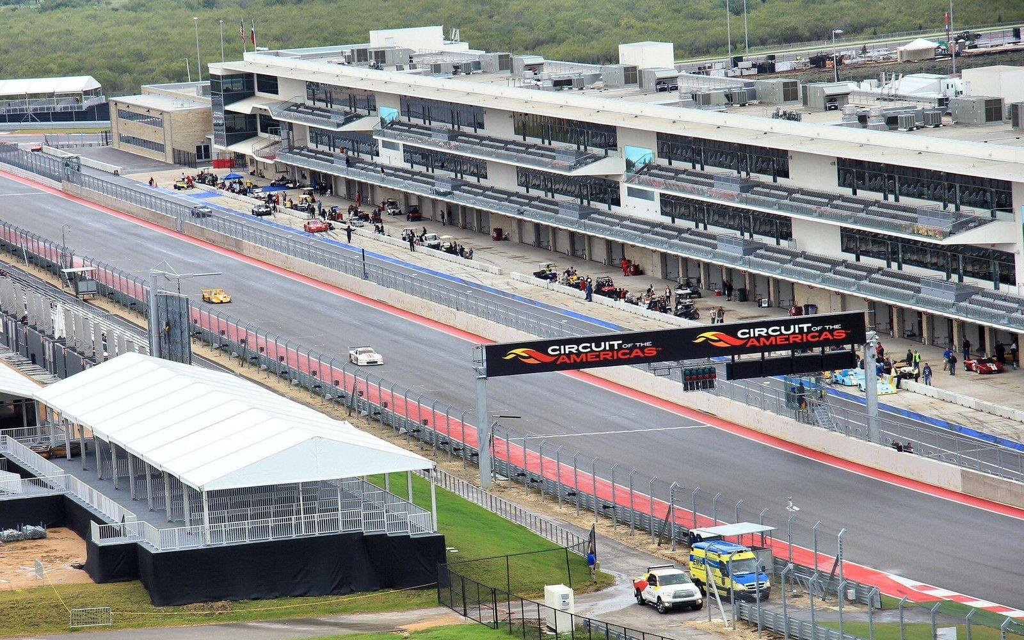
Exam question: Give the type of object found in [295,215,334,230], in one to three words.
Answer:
car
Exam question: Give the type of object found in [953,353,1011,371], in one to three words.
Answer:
car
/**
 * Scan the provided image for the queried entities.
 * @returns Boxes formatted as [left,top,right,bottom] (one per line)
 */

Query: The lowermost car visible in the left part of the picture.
[348,342,385,365]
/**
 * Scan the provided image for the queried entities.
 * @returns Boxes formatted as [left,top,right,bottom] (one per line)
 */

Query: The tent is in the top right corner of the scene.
[889,37,937,62]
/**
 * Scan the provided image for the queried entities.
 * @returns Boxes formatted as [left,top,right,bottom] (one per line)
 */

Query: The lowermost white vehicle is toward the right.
[622,556,714,613]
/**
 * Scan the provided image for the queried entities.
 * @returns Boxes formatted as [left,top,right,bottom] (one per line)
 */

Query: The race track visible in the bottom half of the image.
[0,175,1024,614]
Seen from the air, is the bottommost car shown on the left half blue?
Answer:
No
